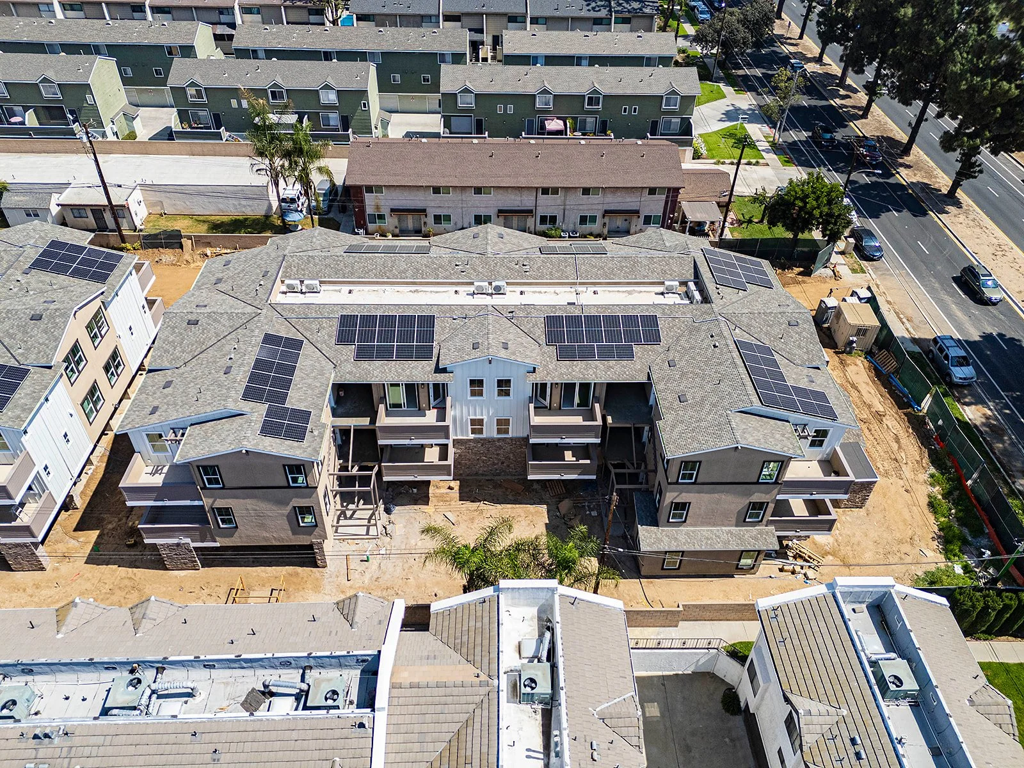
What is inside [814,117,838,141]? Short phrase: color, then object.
black car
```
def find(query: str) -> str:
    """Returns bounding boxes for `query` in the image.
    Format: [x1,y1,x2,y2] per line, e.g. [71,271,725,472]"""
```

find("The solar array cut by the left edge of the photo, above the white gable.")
[0,364,29,405]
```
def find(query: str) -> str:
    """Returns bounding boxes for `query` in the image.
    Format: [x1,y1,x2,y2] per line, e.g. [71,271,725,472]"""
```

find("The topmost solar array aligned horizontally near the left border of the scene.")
[21,239,124,288]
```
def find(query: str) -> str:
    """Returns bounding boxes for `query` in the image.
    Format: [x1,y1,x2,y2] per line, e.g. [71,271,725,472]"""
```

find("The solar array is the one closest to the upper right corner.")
[703,246,779,291]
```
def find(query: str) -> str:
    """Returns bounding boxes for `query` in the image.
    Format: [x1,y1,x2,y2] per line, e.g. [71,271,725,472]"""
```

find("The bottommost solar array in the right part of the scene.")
[736,337,843,420]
